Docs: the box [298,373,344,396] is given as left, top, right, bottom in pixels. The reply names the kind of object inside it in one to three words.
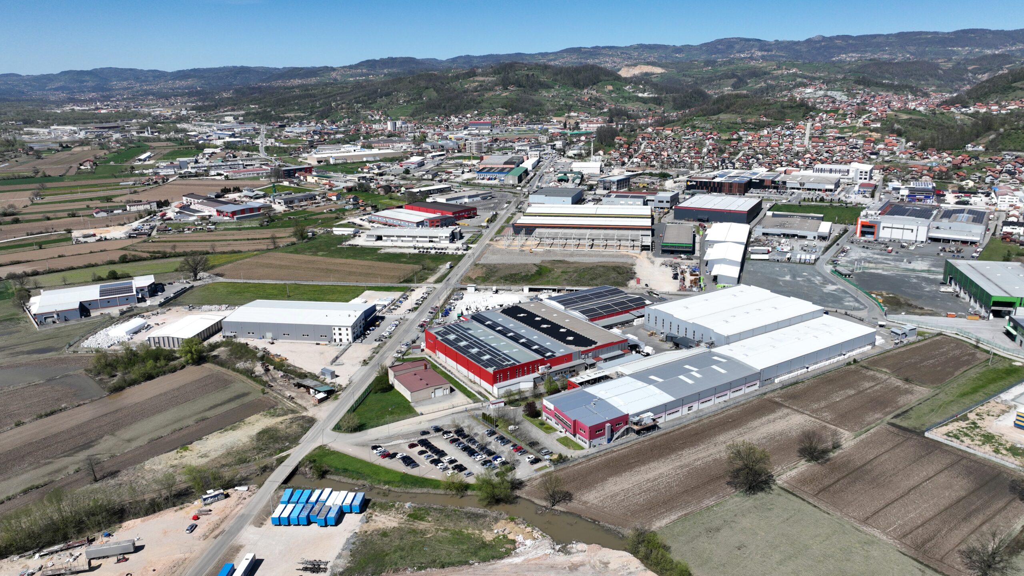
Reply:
shed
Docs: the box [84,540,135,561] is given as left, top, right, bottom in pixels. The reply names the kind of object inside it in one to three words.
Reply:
trailer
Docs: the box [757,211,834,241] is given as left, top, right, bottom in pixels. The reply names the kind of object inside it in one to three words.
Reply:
building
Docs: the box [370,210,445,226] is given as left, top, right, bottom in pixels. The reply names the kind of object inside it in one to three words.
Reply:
building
